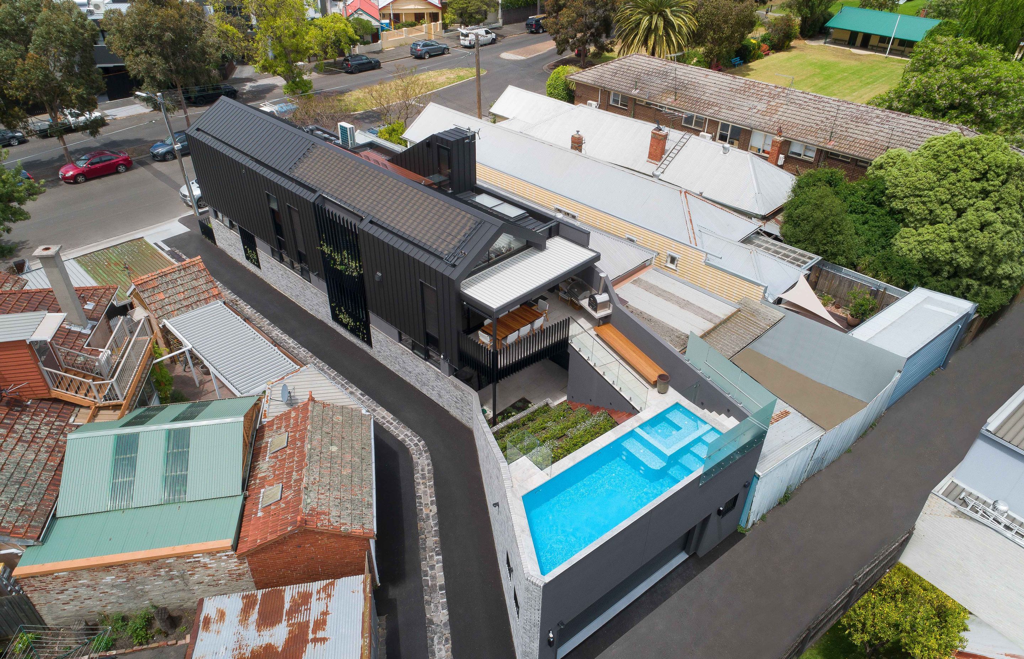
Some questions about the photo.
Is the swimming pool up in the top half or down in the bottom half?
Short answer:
bottom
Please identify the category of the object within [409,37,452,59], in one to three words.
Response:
car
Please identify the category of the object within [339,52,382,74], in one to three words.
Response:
car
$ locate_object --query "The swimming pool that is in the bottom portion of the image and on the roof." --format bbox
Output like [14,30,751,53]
[522,404,737,516]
